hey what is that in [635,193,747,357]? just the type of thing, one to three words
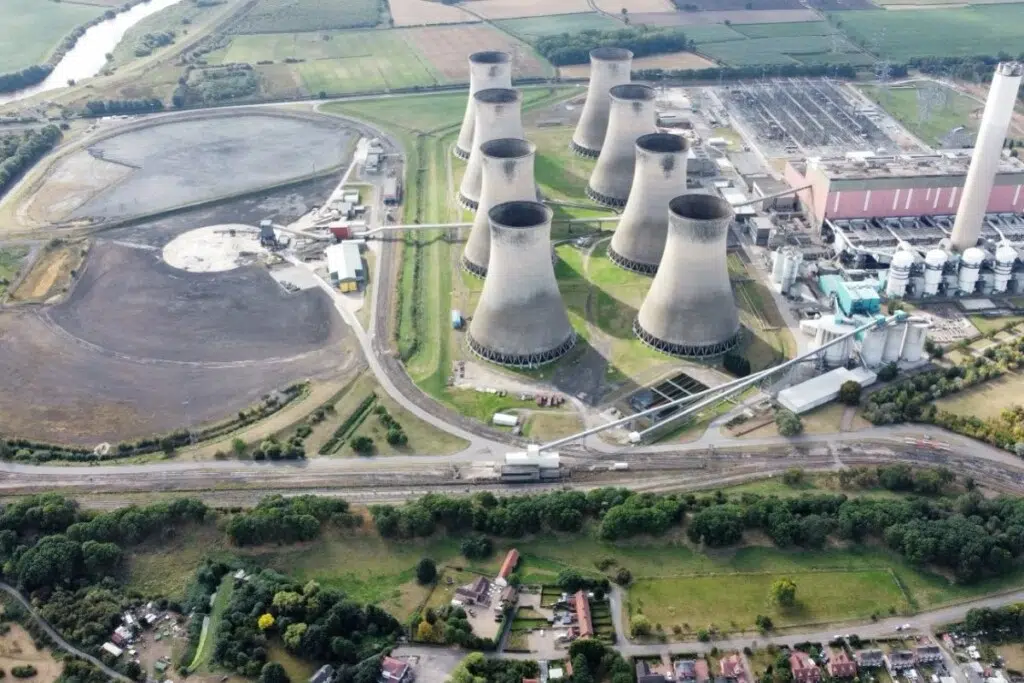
cooling tower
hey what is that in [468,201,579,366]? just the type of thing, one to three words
cooling tower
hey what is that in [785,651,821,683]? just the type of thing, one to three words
house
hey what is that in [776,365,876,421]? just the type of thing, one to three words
shed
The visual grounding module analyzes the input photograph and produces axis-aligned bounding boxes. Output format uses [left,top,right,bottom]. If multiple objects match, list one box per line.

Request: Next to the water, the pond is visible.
[66,111,357,223]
